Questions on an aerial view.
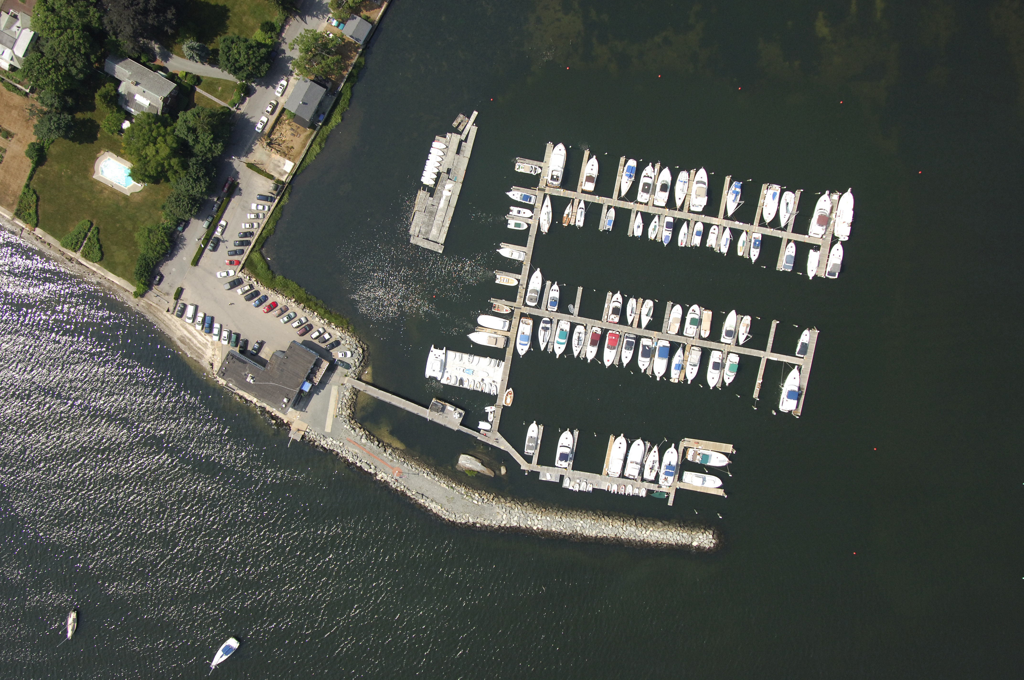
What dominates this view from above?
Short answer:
water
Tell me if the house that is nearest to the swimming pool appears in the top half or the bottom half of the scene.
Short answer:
top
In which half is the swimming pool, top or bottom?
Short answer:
top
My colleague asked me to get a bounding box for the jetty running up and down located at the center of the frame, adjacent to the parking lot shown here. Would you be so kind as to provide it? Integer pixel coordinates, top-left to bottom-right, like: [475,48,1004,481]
[477,143,553,431]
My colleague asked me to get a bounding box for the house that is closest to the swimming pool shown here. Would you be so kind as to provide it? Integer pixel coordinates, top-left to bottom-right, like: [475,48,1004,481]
[104,56,180,117]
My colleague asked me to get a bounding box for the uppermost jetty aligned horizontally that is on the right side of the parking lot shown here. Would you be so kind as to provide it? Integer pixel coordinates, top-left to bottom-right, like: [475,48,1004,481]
[543,151,839,276]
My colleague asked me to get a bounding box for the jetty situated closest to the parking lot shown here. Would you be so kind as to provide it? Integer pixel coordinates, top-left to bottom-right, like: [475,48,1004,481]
[345,377,466,431]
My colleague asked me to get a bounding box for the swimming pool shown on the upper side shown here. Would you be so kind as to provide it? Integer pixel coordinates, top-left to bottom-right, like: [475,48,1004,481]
[93,151,144,195]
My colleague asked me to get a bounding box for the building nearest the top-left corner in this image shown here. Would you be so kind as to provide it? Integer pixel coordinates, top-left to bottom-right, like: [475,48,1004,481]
[0,9,40,73]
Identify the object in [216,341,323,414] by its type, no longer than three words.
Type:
building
